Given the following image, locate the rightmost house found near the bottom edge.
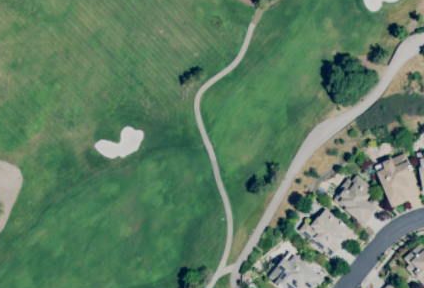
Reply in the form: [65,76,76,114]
[403,246,424,286]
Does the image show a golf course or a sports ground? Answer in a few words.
golf course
